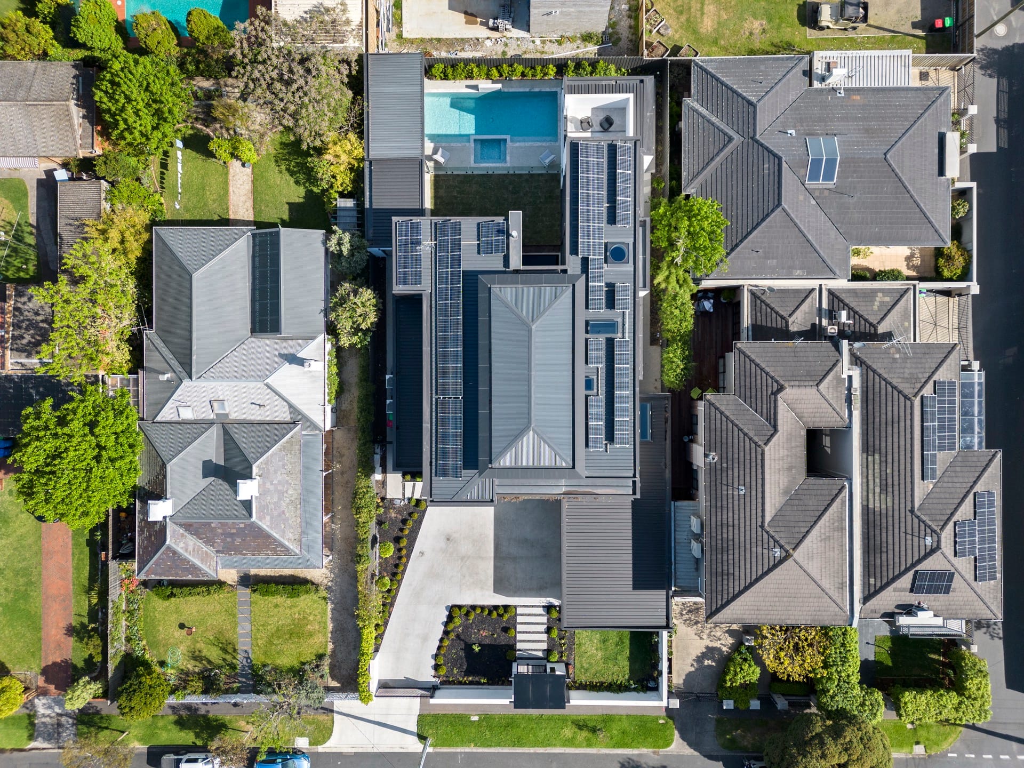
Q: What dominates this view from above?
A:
buildings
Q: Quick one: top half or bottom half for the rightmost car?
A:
top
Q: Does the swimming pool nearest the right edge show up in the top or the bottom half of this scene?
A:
top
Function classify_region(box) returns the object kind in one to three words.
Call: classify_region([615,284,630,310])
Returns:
solar panel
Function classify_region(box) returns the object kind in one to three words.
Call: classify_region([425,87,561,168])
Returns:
swimming pool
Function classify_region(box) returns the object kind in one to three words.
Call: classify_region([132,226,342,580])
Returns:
house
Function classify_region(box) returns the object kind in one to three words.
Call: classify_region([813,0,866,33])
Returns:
car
